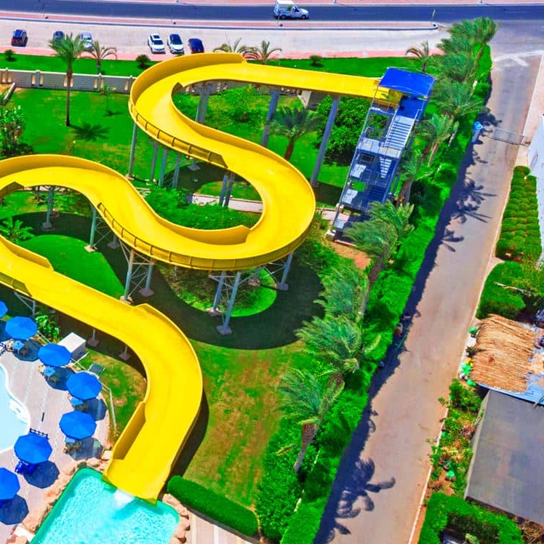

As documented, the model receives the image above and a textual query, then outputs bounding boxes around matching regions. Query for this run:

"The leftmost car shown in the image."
[11,33,27,49]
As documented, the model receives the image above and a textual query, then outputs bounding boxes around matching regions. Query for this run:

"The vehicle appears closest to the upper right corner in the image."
[273,6,310,23]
